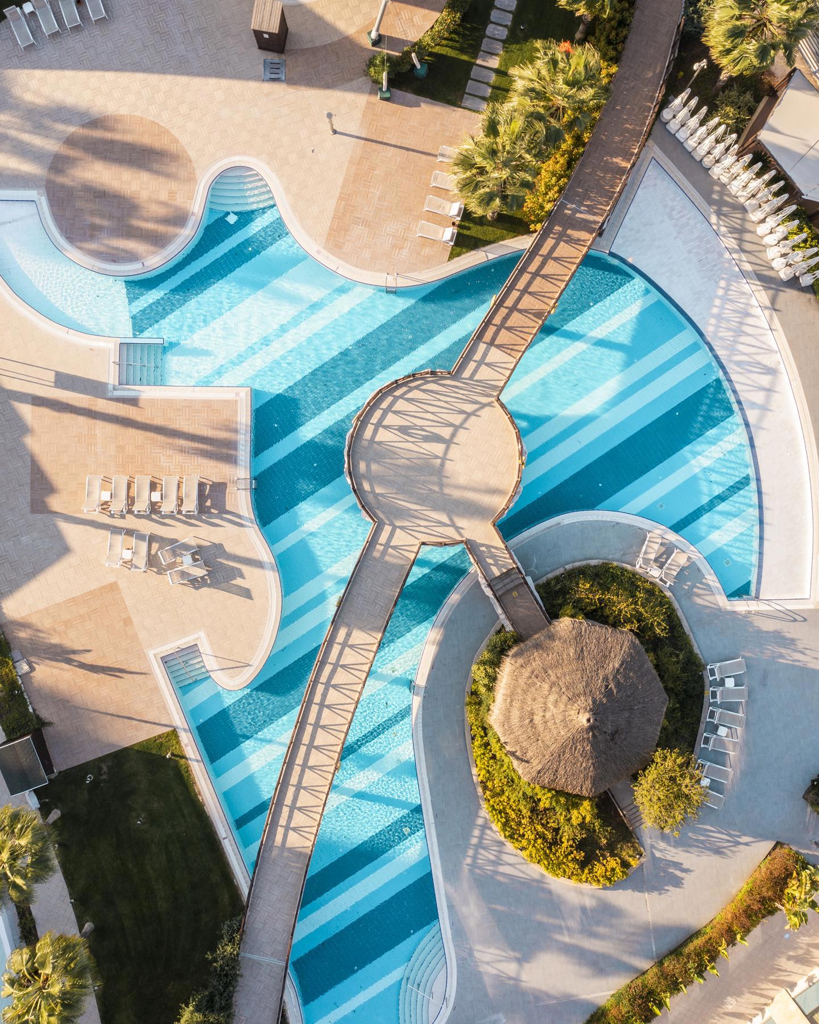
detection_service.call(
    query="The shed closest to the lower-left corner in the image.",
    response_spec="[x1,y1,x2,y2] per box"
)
[0,730,55,796]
